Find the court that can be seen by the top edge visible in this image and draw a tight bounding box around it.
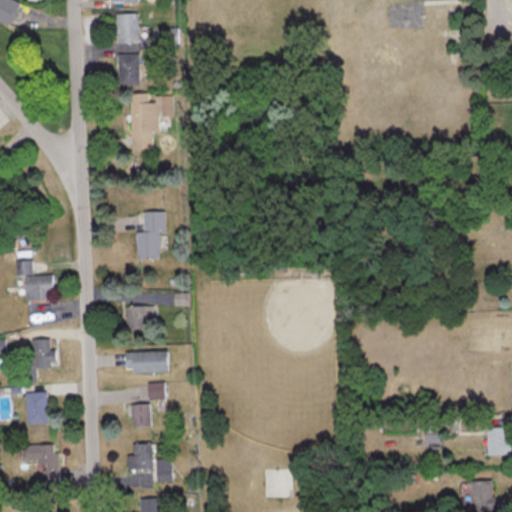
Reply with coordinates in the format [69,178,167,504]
[388,2,424,28]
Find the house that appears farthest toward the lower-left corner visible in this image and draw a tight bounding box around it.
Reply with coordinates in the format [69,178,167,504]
[20,445,65,474]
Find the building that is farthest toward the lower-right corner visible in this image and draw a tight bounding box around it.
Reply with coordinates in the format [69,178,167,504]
[462,480,495,512]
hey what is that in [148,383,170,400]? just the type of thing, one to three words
building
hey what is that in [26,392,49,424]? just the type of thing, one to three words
house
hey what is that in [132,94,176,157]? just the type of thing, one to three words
house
